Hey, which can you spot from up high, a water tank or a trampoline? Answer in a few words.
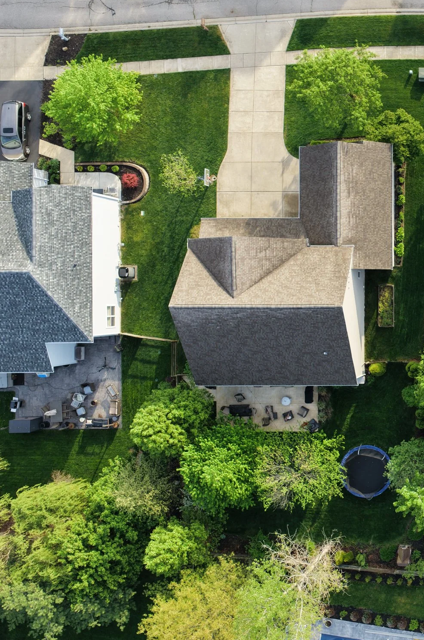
trampoline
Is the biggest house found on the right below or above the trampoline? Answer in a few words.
above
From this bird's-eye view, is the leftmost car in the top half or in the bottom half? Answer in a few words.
top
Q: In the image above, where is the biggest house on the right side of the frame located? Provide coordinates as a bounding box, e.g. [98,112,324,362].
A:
[168,141,396,387]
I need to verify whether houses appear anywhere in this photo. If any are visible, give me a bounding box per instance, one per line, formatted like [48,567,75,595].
[0,161,122,374]
[168,141,396,387]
